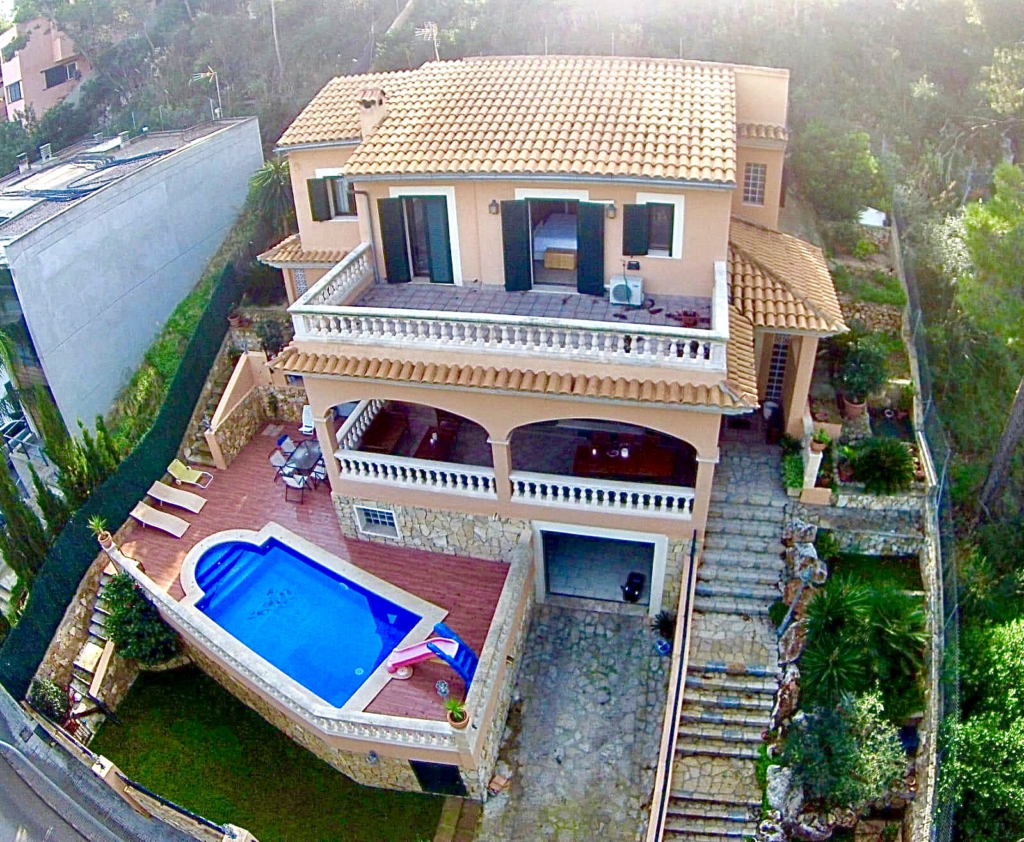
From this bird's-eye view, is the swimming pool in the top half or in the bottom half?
bottom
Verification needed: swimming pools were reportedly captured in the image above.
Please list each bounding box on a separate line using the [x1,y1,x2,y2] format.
[173,528,441,709]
